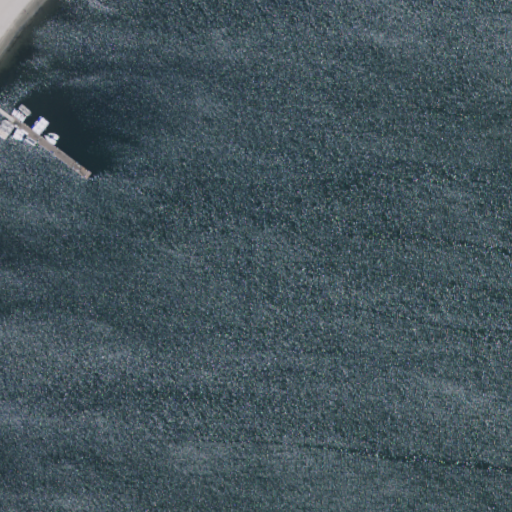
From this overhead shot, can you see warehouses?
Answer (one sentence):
No, no warehouse can be seen from above.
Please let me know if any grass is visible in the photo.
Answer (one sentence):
No, the scene doesn't show any grass.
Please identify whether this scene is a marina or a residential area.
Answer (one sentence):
The area seen from above is a marina.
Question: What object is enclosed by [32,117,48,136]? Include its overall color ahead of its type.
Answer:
white boat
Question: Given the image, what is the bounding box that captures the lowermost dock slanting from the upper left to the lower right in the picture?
[10,117,92,179]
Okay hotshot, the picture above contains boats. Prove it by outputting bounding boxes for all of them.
[0,126,10,139]
[48,131,59,140]
[42,135,57,146]
[25,137,37,146]
[12,130,25,142]
[32,117,48,136]
[18,104,32,116]
[12,110,26,122]
[0,119,14,132]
